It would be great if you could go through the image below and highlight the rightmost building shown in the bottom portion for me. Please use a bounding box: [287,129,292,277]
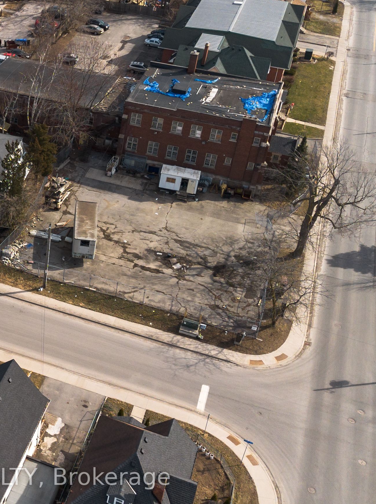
[66,414,201,504]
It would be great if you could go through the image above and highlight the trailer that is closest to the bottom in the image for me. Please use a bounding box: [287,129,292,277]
[72,201,97,257]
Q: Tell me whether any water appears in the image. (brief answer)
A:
No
